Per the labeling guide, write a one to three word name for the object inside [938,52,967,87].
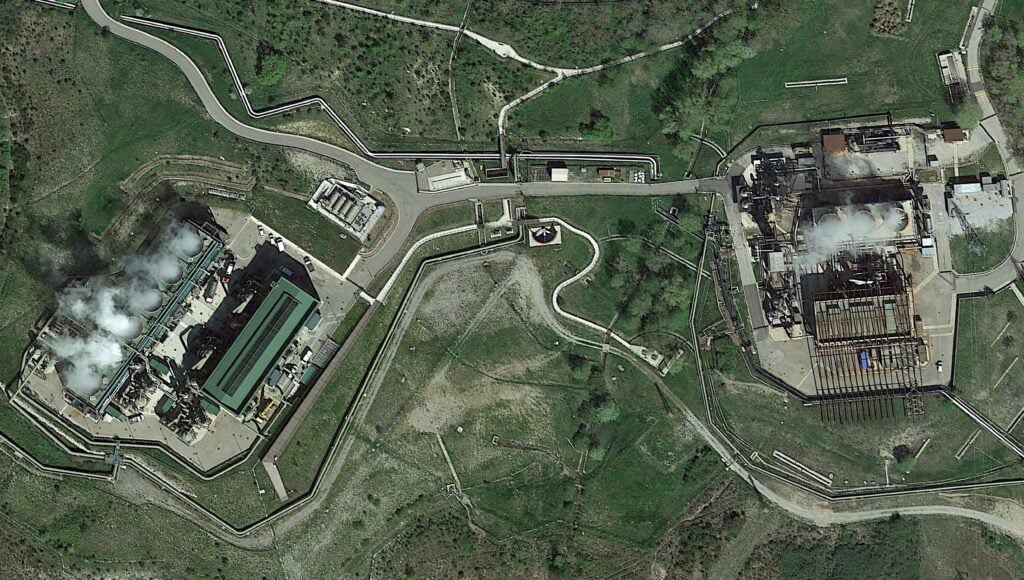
house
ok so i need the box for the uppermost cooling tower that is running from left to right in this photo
[811,199,917,247]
